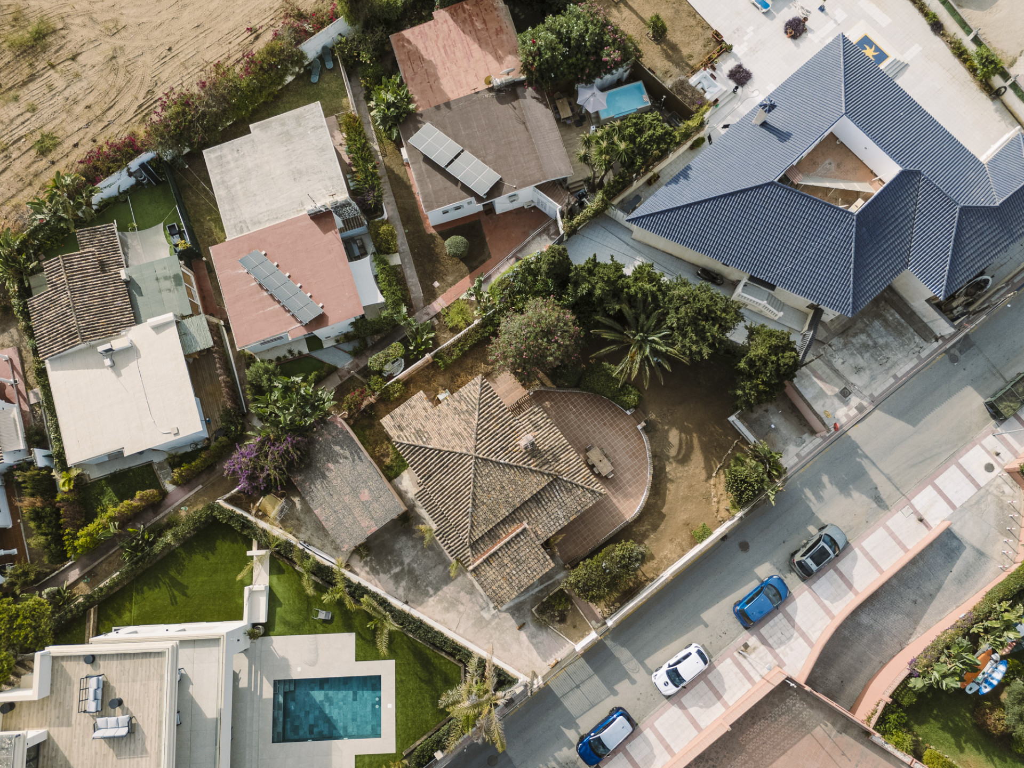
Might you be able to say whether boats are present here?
Yes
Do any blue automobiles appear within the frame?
Yes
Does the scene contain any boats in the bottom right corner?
Yes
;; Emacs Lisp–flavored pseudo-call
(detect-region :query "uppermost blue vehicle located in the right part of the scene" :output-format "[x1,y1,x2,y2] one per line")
[729,572,789,629]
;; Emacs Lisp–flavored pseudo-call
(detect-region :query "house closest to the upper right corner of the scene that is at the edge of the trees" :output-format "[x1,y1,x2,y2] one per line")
[626,31,1024,318]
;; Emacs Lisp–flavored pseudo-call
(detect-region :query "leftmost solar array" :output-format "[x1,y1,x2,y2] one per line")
[239,250,324,328]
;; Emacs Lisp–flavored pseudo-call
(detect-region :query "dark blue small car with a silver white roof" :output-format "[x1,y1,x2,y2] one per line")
[577,706,636,766]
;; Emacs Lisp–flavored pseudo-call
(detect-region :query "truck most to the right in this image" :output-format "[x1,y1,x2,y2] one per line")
[983,367,1024,428]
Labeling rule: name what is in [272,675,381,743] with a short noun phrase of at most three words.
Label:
swimming pool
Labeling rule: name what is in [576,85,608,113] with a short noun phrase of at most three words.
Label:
umbrella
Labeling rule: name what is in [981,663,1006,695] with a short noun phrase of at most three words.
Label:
boat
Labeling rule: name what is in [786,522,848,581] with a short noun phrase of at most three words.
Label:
car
